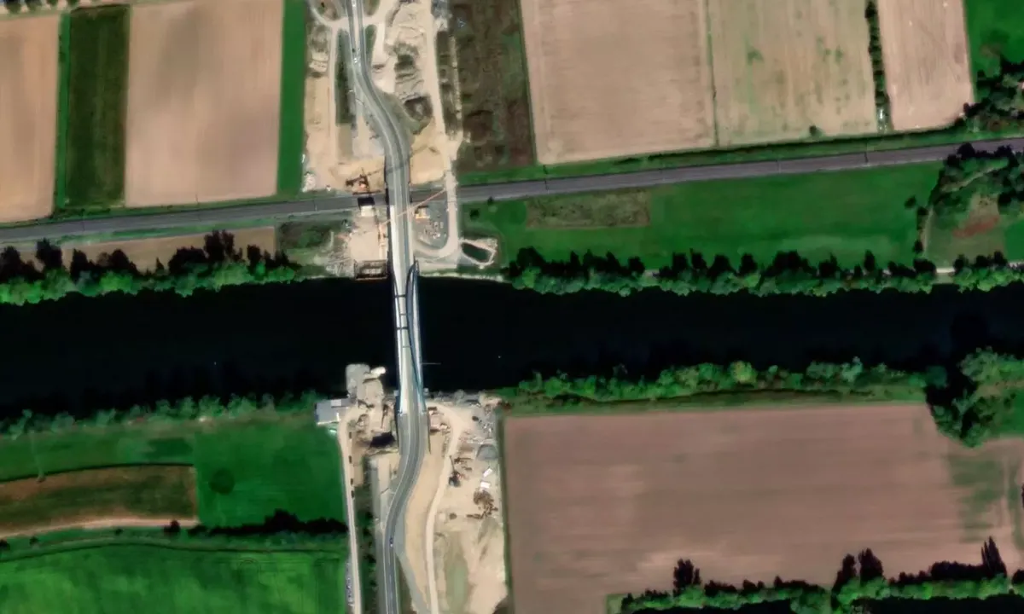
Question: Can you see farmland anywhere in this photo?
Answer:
Yes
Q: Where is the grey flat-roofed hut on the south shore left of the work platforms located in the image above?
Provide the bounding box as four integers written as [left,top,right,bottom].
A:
[315,403,345,428]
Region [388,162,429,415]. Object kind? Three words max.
bridge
